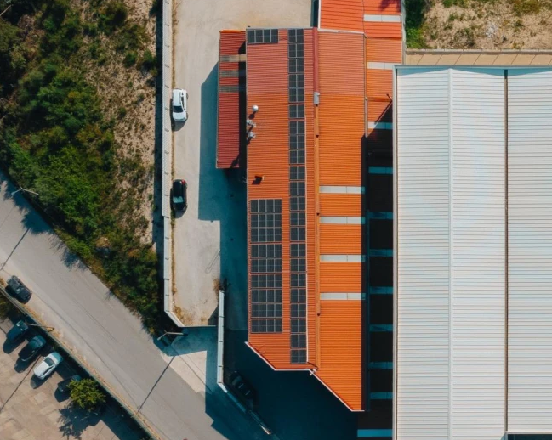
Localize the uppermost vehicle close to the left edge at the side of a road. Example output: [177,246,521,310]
[2,274,34,304]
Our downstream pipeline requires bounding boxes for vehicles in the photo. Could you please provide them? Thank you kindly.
[170,181,187,213]
[54,371,85,402]
[1,319,32,351]
[33,350,64,382]
[16,332,49,365]
[2,274,34,304]
[171,89,188,121]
